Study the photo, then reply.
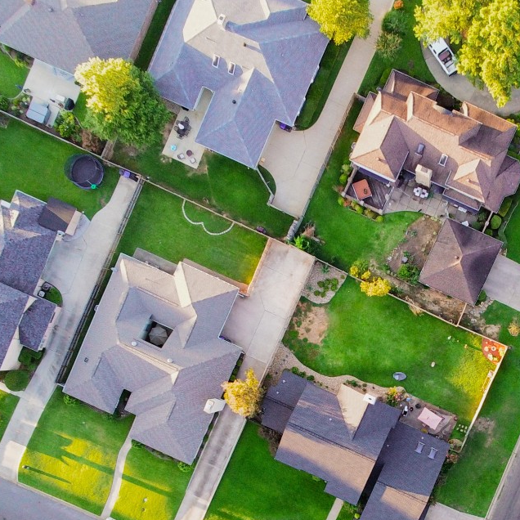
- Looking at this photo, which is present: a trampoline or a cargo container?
trampoline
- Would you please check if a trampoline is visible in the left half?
Yes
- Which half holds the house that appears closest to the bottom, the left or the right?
right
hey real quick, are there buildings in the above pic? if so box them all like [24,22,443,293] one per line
[0,190,69,374]
[62,253,243,465]
[0,0,162,78]
[349,68,520,216]
[261,369,451,520]
[419,217,504,306]
[148,0,334,169]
